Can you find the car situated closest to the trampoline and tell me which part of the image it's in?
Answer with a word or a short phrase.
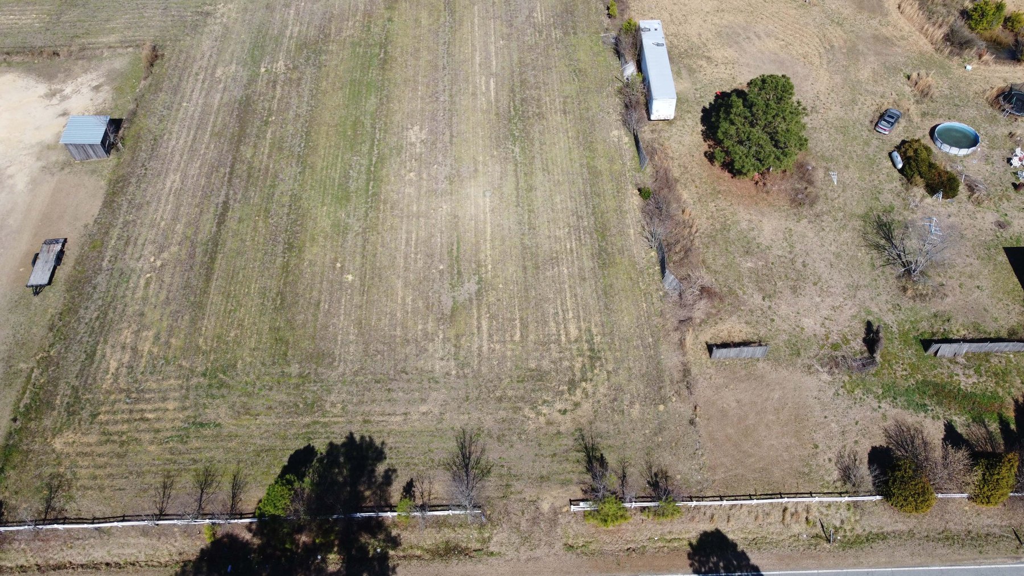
top right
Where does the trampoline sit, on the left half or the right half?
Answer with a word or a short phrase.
right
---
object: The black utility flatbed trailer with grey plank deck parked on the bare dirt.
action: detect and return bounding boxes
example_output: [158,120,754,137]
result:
[25,237,67,299]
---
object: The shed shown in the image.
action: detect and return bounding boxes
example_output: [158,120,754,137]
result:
[60,114,117,162]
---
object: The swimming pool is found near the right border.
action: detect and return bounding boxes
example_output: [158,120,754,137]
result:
[931,124,977,160]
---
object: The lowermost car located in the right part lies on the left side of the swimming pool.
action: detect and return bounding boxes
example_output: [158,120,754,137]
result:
[873,109,901,138]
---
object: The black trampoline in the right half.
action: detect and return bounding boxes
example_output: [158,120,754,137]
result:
[1003,77,1024,119]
